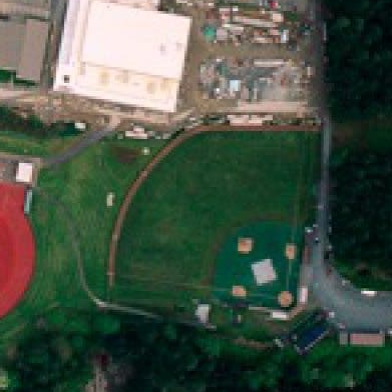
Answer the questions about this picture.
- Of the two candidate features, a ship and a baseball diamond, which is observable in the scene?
baseball diamond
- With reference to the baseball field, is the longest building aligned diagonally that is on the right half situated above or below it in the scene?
below it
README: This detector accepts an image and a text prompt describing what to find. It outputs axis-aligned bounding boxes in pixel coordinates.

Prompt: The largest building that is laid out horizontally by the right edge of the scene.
[350,334,384,346]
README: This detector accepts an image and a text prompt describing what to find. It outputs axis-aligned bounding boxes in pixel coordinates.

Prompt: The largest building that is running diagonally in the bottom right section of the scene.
[295,325,331,354]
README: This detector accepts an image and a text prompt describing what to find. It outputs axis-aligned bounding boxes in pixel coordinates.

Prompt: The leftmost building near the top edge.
[0,19,49,83]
